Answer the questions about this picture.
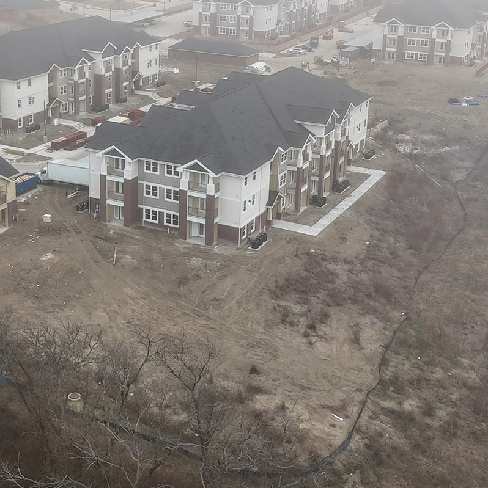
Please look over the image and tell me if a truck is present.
Yes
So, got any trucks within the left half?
Yes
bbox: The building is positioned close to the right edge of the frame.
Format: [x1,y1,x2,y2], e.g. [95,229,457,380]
[367,0,488,67]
